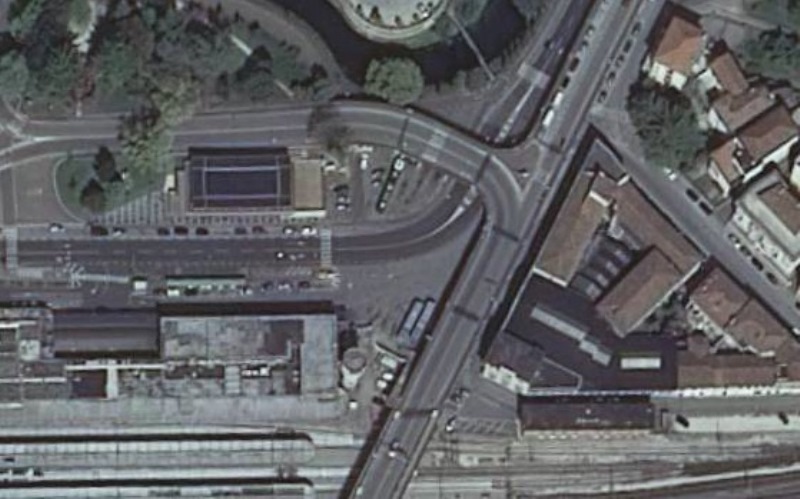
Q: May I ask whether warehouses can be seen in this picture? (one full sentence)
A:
Yes, a warehouse is visible in the scene.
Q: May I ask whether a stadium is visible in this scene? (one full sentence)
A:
No, there isn't any stadium down there.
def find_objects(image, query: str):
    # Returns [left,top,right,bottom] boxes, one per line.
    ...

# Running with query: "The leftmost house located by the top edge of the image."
[642,14,708,93]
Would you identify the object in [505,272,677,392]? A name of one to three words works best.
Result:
warehouse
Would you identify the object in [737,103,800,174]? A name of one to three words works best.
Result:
house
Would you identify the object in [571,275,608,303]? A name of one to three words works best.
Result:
shed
